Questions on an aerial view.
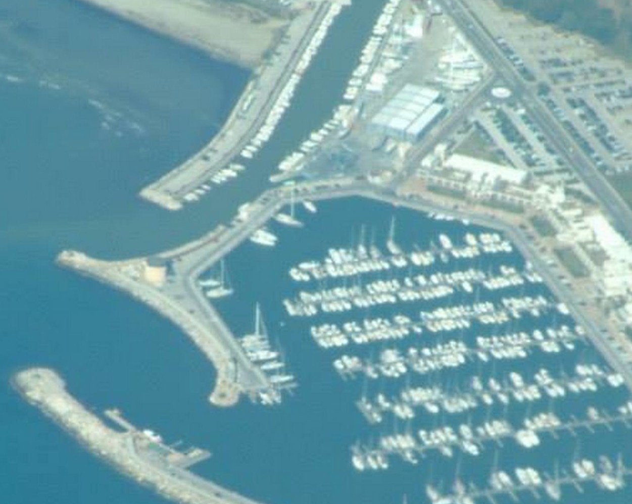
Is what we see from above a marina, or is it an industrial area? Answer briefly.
marina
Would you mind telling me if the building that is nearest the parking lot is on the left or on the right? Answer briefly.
right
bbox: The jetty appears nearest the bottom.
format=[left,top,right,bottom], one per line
[441,460,632,504]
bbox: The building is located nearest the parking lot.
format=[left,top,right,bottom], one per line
[445,153,525,190]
